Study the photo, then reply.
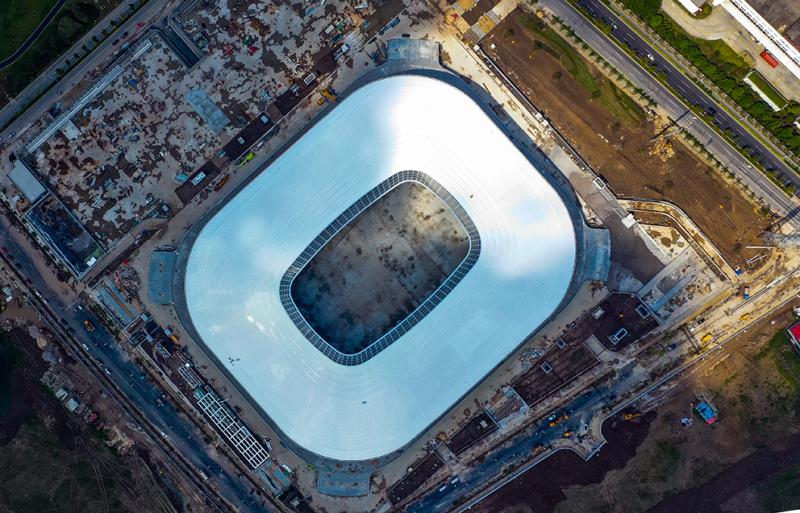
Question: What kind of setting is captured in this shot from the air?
sports ground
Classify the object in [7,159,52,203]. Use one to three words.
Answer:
building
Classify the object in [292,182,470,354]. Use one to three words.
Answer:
sports field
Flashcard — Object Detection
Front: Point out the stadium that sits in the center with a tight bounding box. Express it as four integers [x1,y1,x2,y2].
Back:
[150,40,609,494]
